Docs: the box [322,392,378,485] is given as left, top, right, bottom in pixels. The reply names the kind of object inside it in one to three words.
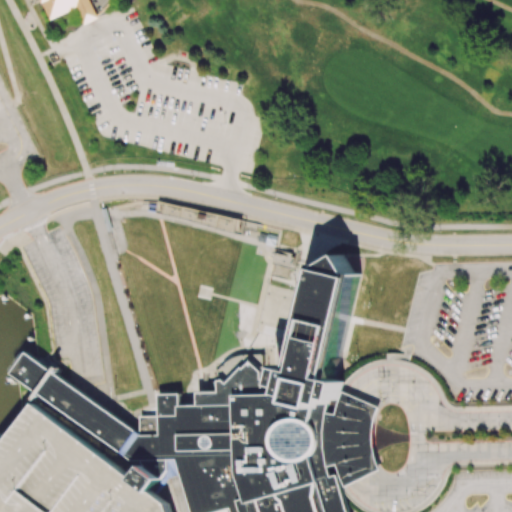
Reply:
building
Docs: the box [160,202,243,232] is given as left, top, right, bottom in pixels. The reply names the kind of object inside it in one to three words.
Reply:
building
